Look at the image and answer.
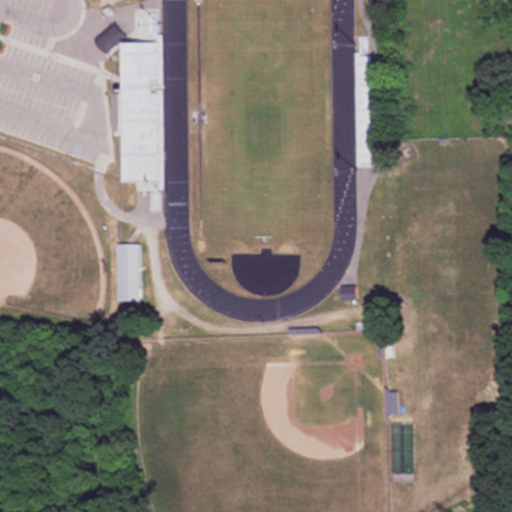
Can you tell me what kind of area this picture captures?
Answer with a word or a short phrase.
sports ground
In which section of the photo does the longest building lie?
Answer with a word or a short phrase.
left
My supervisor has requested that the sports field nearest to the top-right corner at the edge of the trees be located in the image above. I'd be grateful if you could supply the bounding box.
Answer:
[188,0,332,298]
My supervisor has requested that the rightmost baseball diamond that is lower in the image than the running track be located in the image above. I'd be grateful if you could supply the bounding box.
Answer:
[138,330,390,512]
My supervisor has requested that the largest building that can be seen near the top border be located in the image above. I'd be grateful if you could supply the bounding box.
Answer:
[94,22,127,52]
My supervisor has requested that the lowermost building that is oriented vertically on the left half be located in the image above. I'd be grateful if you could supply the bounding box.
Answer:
[116,244,141,303]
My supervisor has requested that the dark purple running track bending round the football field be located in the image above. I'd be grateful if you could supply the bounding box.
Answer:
[164,0,356,322]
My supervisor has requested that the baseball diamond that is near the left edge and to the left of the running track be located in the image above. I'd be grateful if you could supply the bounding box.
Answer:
[0,145,106,324]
